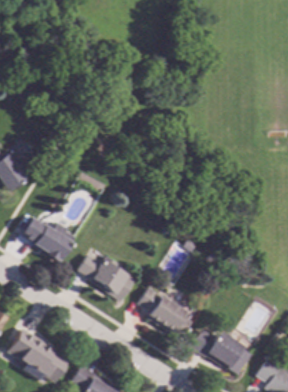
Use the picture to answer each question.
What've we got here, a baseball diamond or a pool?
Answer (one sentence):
Of the two, only a pool appears.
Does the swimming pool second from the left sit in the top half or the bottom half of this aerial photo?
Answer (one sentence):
It is in the bottom half that the swimming pool second from the left appears.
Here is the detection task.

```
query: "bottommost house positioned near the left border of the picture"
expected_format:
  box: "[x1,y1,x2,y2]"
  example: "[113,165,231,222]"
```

[8,330,70,382]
